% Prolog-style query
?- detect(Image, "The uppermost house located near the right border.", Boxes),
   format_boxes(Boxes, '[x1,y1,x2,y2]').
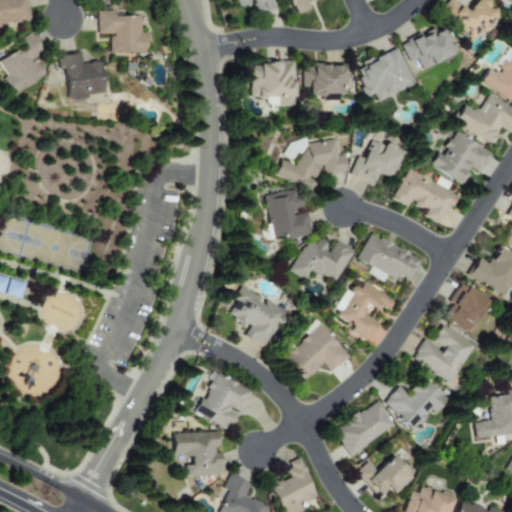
[448,0,501,36]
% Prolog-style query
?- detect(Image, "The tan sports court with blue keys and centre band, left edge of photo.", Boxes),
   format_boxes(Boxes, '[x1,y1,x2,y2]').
[0,212,92,273]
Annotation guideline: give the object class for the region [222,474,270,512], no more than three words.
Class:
house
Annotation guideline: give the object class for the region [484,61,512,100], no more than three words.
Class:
house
